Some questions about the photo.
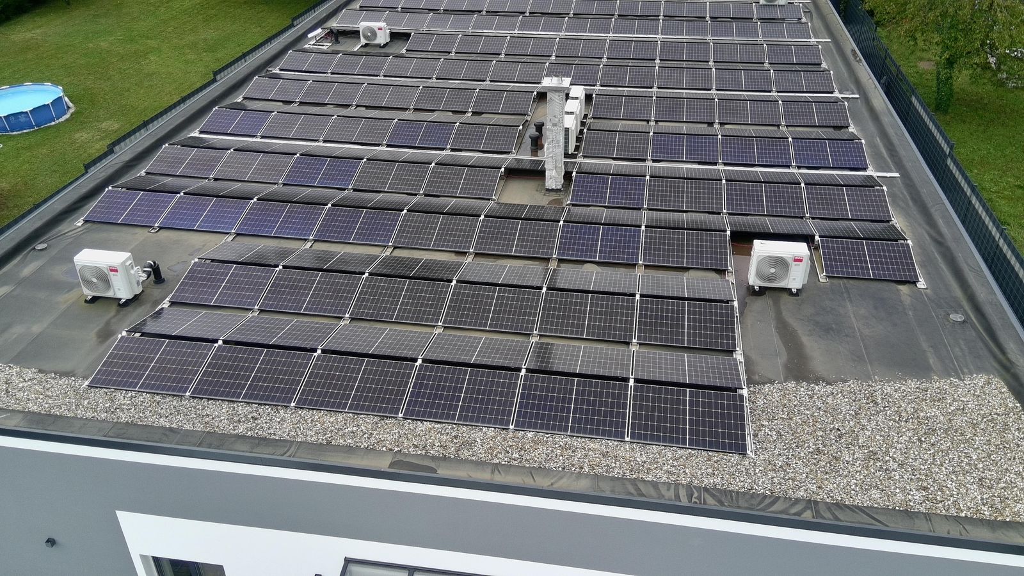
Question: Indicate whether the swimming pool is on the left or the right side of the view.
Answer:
left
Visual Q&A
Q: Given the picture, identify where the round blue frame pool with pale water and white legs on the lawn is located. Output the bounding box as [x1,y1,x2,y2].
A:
[0,81,80,135]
